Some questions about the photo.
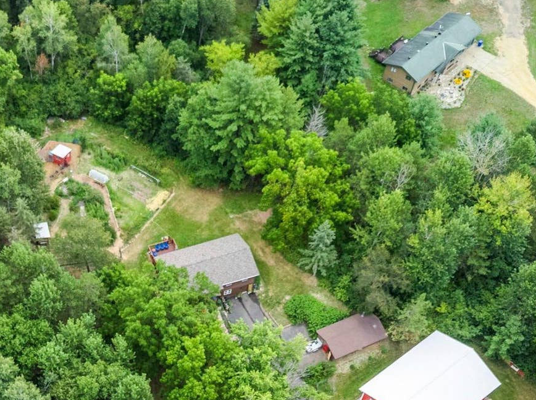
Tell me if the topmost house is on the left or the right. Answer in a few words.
right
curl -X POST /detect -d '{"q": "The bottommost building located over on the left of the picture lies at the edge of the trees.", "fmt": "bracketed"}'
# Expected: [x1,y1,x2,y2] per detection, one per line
[147,233,262,311]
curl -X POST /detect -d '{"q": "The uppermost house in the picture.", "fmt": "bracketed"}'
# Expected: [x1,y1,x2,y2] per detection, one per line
[369,13,483,87]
